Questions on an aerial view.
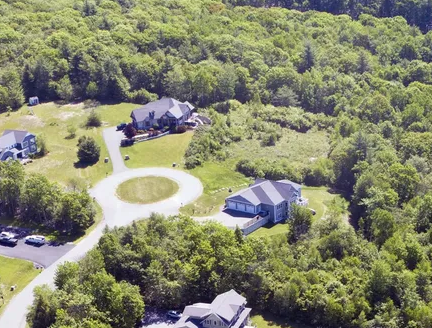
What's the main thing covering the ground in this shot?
trees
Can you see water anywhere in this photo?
No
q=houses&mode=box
[173,289,261,328]
[0,127,39,161]
[225,178,314,220]
[128,98,195,130]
